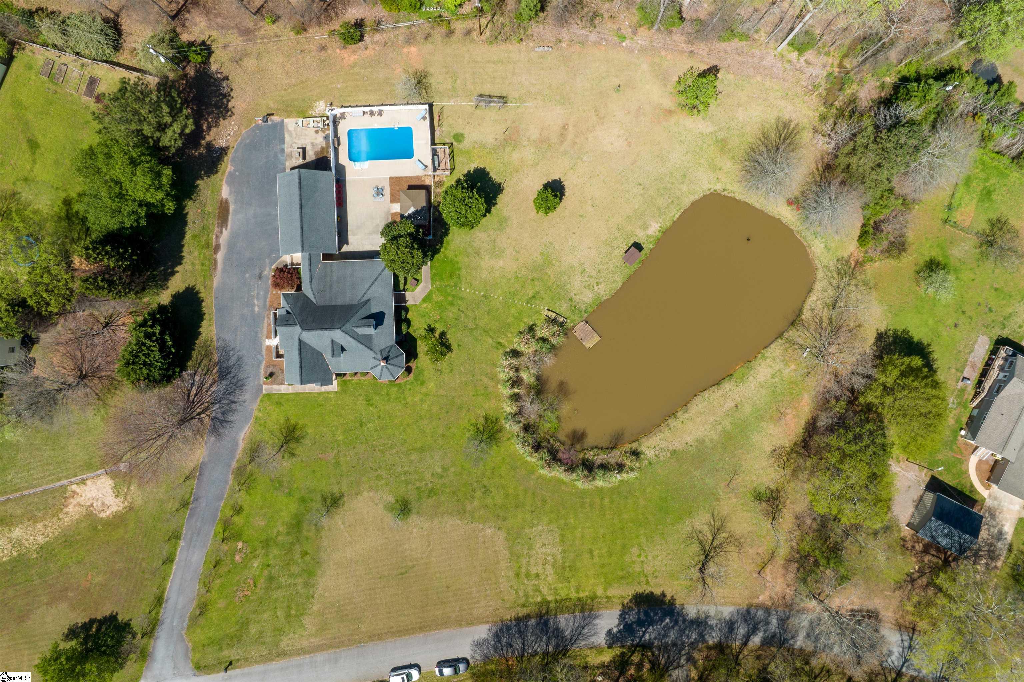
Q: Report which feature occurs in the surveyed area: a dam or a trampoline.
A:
trampoline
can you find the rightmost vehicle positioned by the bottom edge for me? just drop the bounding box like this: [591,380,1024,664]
[435,662,469,679]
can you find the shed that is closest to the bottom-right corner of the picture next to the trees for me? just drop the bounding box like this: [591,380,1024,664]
[905,488,984,556]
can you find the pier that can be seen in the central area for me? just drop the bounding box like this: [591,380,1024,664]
[573,321,601,349]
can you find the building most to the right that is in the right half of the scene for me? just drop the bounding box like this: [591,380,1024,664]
[959,347,1024,501]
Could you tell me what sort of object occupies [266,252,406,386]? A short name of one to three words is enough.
house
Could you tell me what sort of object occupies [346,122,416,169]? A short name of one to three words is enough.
swimming pool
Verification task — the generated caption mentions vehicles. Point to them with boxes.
[386,668,420,682]
[435,662,469,679]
